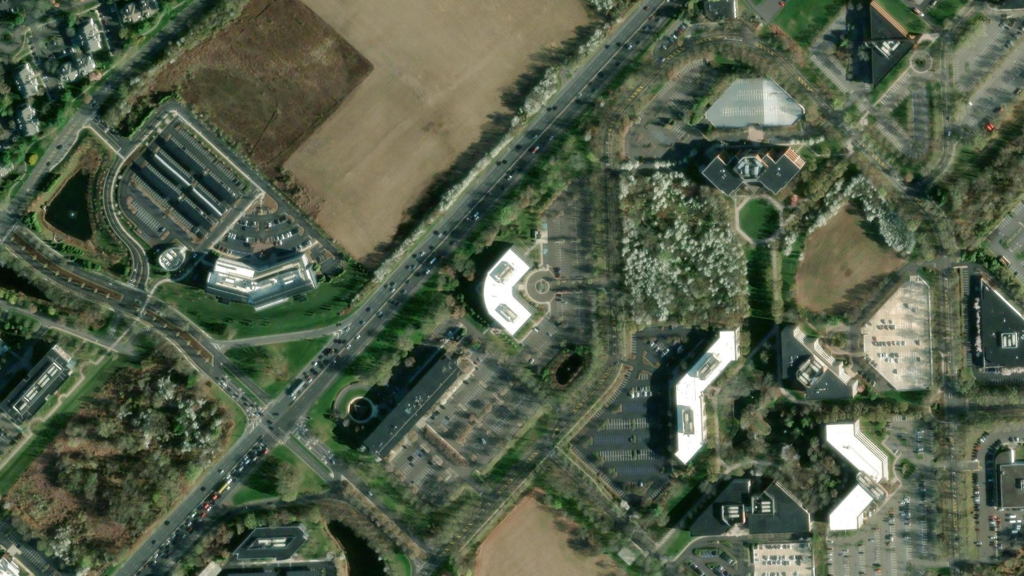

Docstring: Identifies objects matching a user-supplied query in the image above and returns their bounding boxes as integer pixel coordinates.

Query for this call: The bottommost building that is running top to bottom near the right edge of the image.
[995,445,1024,508]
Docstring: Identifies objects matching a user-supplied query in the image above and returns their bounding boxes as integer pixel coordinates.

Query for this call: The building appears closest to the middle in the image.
[484,243,539,336]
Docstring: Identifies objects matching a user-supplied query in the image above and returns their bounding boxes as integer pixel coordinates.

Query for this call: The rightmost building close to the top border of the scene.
[868,0,918,88]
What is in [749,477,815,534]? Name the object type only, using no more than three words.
building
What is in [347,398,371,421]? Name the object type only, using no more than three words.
fountain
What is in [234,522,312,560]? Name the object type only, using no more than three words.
building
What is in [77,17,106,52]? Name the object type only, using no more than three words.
house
